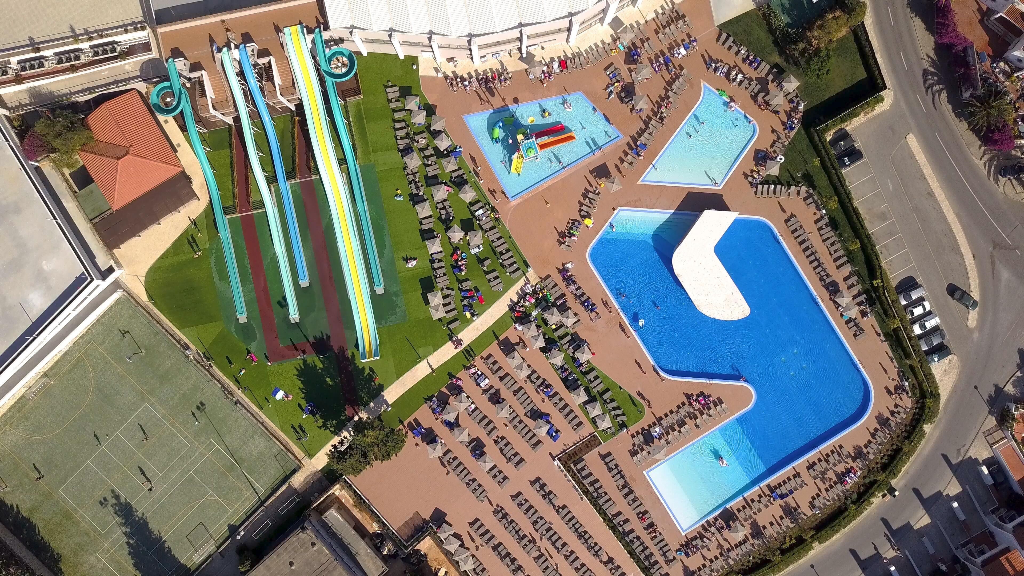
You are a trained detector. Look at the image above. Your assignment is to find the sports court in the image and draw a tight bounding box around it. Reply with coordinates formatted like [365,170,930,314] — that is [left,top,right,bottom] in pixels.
[0,297,299,576]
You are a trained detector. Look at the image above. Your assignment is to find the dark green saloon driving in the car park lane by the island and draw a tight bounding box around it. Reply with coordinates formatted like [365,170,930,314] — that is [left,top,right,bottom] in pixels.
[946,285,977,309]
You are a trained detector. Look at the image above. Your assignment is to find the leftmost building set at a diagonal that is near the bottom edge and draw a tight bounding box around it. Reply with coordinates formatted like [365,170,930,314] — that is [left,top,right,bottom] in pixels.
[306,501,392,576]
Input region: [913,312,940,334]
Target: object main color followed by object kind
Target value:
white car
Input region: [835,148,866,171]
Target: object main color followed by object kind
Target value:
black car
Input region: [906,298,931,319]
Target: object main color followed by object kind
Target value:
white car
